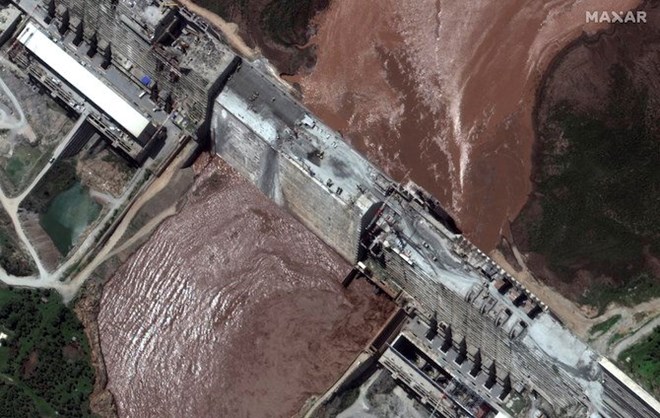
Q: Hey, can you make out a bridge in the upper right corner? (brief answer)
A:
No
